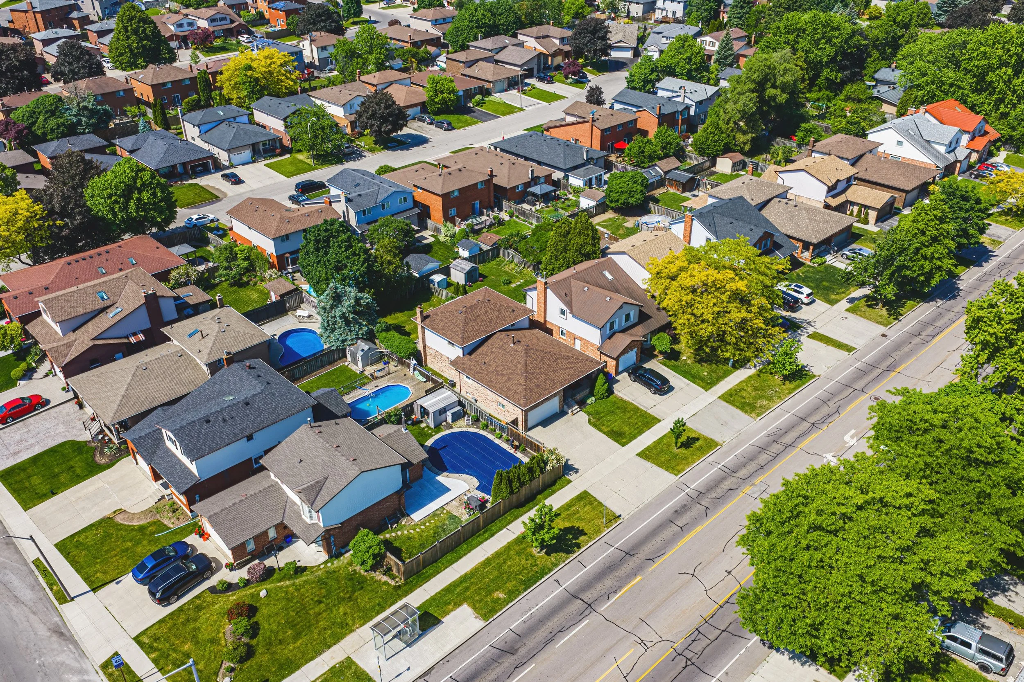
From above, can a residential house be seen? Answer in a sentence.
Yes, this view includes a residential house.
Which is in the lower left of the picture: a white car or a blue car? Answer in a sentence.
The feature located in the lower left of the picture is a blue car.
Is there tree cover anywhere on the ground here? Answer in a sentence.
Yes, tree cover can be seen from above here.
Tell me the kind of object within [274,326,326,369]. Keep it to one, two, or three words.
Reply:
swimming pool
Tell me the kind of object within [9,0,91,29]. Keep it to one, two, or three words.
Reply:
house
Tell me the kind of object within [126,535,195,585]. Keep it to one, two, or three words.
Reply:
car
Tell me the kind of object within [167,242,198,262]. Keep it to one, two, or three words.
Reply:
gazebo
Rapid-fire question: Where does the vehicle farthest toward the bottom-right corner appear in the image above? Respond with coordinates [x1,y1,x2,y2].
[925,611,1024,679]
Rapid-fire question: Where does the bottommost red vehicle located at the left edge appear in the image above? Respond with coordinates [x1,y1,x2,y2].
[0,390,47,423]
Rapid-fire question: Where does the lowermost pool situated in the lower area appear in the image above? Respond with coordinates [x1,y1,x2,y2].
[420,423,532,505]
